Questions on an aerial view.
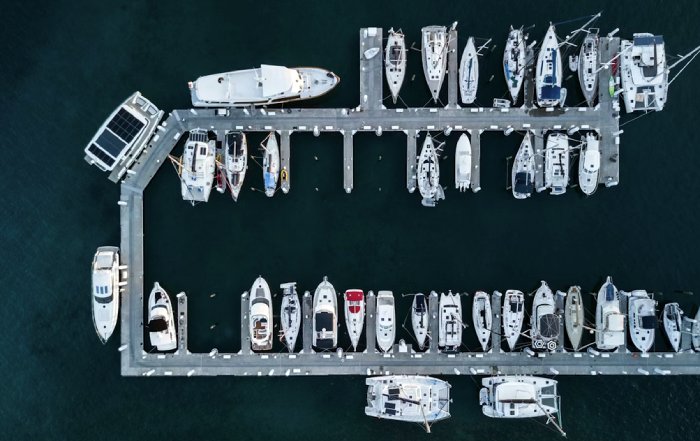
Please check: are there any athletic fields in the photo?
No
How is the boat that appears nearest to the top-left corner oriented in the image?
at an angle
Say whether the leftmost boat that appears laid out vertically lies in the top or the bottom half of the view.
bottom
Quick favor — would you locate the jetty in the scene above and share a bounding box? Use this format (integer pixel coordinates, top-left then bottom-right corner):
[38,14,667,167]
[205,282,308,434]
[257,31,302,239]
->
[121,28,700,376]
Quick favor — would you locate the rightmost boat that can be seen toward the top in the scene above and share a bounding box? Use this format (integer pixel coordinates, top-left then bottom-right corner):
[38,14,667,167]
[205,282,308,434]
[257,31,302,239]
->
[617,34,700,127]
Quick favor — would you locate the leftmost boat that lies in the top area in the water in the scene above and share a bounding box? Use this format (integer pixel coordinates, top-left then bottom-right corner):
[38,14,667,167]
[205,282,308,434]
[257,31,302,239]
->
[85,92,167,183]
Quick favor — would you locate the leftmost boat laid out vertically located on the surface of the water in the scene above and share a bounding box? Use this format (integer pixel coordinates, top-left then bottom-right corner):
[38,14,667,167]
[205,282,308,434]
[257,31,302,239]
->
[90,246,123,347]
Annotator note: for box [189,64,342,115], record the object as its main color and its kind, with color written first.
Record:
white boat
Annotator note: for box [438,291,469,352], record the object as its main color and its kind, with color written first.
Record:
white boat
